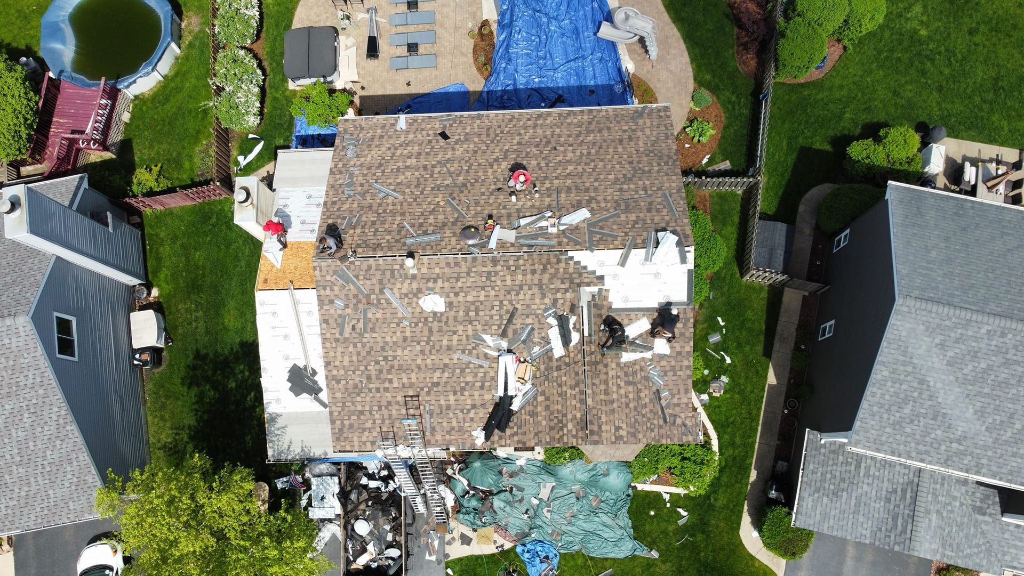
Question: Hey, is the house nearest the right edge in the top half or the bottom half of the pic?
bottom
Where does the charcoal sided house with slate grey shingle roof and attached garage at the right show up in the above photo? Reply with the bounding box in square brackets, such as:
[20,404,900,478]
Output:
[777,179,1024,576]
